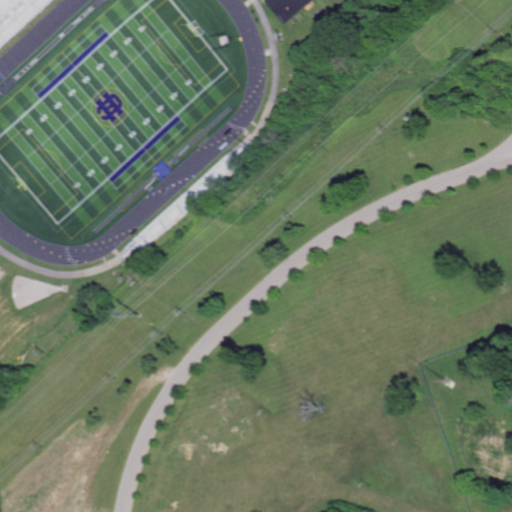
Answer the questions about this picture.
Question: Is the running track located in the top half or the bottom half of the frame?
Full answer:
It is in the top half that the running track appears.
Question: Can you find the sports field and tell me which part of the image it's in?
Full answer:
The sports field appears toward the top left of the photo.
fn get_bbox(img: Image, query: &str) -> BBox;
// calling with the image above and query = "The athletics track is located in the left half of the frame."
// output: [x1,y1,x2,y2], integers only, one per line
[0,0,266,264]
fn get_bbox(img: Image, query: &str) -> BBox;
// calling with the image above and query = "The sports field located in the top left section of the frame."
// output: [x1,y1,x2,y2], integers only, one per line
[0,0,248,244]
